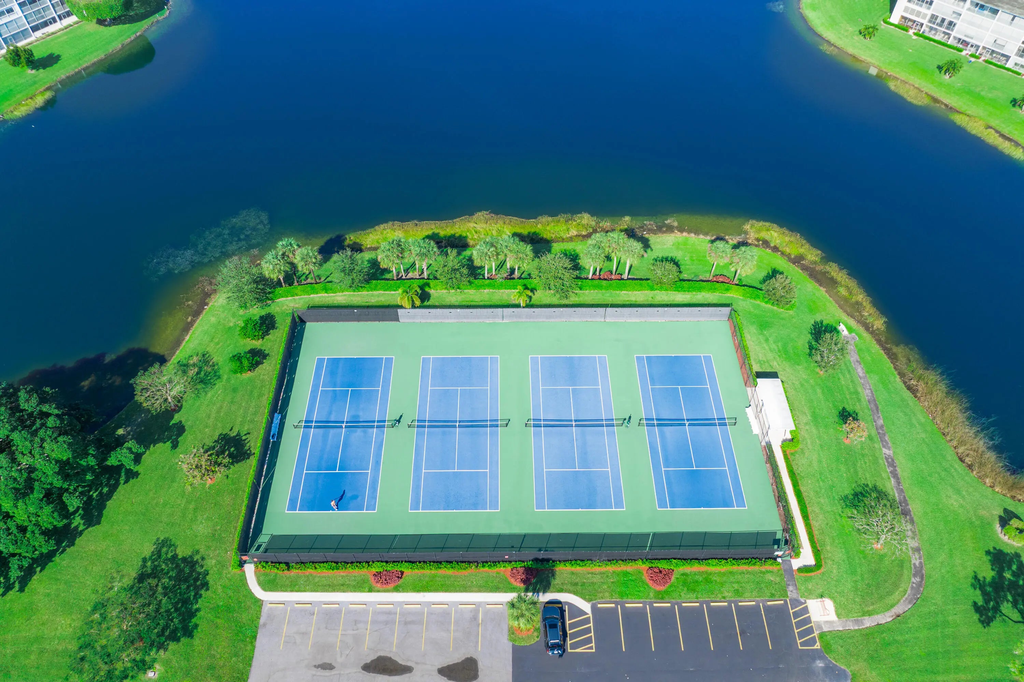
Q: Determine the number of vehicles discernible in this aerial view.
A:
1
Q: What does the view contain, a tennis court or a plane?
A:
tennis court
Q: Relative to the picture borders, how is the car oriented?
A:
up and down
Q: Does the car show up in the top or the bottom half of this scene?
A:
bottom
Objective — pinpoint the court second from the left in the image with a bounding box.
[409,356,499,512]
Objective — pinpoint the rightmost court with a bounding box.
[635,355,747,509]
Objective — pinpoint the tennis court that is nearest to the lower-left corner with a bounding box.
[285,356,394,513]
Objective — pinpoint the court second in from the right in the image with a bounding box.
[530,355,625,510]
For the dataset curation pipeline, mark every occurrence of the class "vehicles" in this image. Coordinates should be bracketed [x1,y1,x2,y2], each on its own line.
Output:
[542,608,563,655]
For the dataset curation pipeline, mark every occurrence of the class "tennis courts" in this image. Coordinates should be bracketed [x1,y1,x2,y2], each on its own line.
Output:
[530,355,625,510]
[285,356,394,513]
[635,355,747,509]
[409,356,499,512]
